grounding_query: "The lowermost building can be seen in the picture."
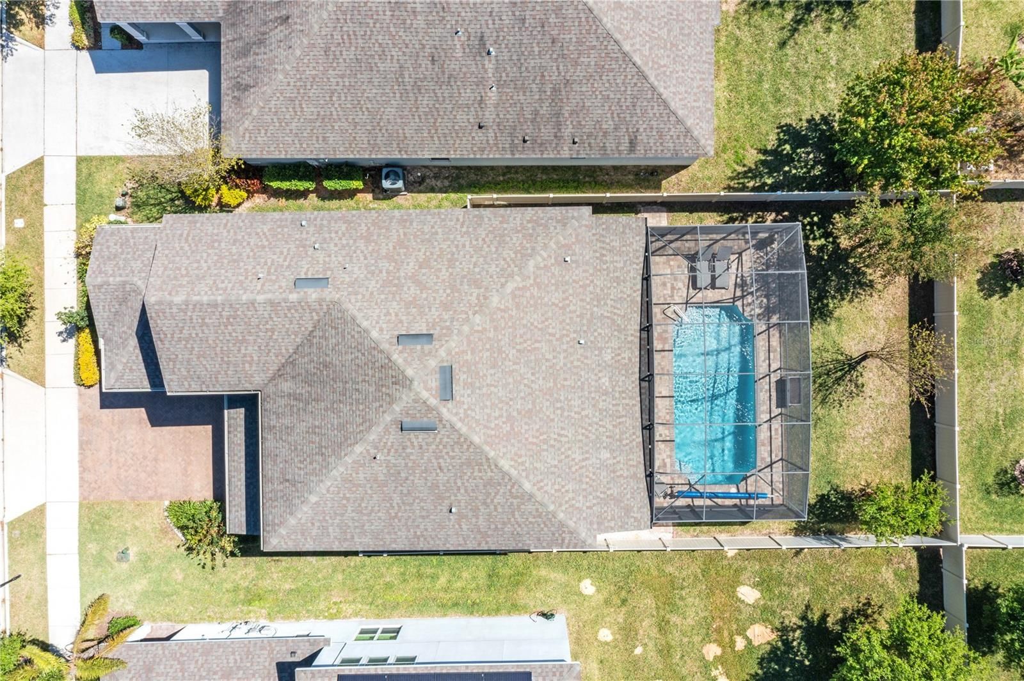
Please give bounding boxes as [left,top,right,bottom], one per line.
[112,616,582,681]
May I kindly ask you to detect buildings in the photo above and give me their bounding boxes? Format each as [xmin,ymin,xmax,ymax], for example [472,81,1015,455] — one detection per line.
[85,205,651,556]
[112,616,582,681]
[93,0,718,169]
